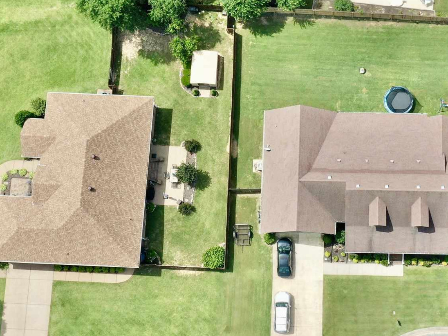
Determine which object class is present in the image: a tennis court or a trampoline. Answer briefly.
trampoline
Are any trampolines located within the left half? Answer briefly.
No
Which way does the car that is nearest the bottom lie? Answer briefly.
from top to bottom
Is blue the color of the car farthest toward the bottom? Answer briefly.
No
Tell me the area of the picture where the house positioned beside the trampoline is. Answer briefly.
right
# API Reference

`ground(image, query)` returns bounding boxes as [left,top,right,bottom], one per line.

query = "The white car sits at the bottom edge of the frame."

[272,292,292,334]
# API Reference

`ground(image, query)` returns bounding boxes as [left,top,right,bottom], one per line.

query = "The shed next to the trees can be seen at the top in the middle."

[190,50,219,90]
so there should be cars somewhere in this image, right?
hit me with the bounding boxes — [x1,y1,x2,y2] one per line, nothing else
[274,238,293,277]
[272,292,292,334]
